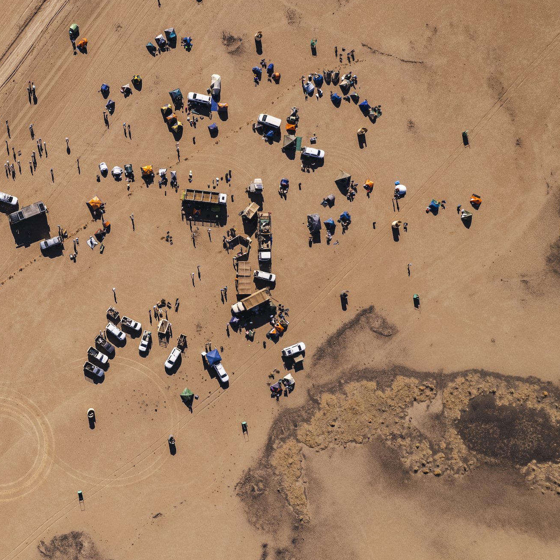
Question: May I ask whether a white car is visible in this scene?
Yes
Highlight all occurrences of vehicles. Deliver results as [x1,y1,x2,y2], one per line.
[256,113,282,128]
[186,93,212,105]
[248,176,264,194]
[85,345,108,363]
[38,235,65,250]
[138,327,153,352]
[81,360,105,376]
[250,269,276,282]
[164,344,182,368]
[118,314,143,330]
[257,215,272,260]
[103,321,126,340]
[91,333,114,352]
[212,361,229,384]
[183,189,225,206]
[298,146,324,159]
[0,192,18,206]
[231,285,273,313]
[10,202,47,226]
[280,341,305,356]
